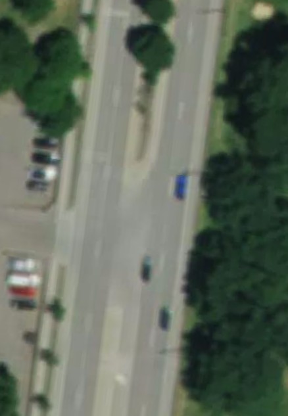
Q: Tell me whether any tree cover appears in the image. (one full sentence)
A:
Yes, there's tree cover in this view.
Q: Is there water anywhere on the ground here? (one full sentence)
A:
No, no water is visible.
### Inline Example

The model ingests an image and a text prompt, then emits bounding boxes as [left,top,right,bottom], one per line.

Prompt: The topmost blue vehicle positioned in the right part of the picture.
[175,173,188,200]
